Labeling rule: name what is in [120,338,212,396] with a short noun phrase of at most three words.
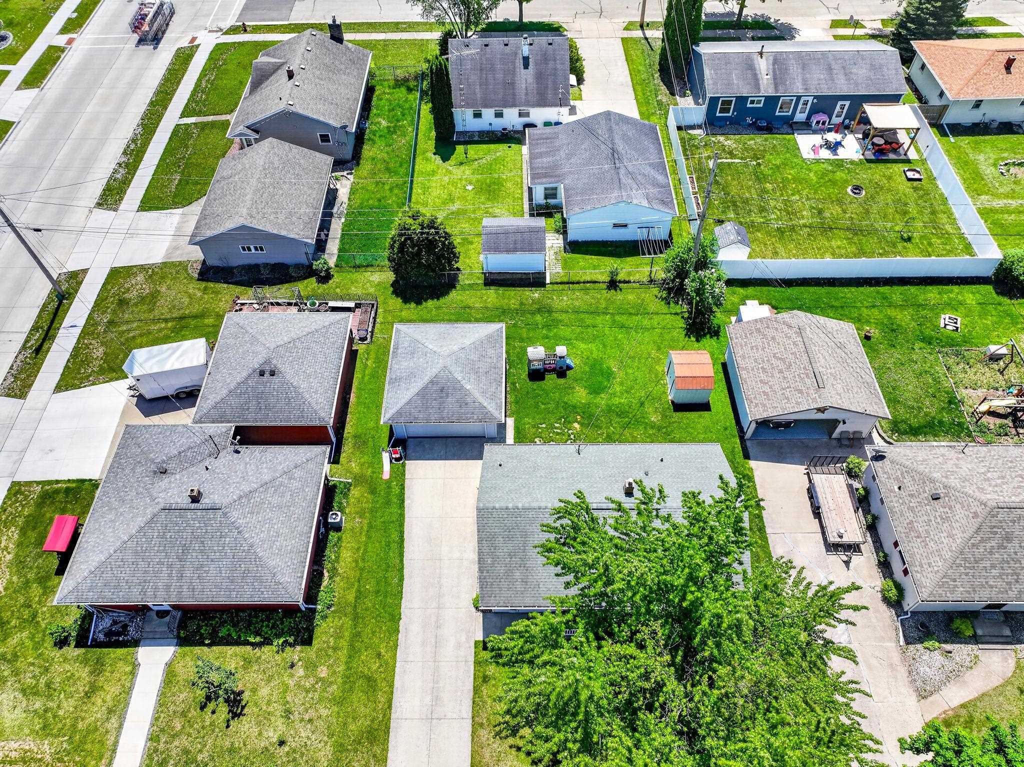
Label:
trailer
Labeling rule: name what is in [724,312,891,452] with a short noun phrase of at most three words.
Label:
building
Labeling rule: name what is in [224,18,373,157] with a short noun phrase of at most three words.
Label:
house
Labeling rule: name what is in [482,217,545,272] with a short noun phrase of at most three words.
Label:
shed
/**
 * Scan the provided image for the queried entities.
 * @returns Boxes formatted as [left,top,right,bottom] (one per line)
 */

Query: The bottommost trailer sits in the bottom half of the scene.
[808,454,868,569]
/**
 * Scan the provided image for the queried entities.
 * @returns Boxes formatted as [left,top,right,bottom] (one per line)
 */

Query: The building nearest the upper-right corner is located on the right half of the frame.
[908,39,1024,137]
